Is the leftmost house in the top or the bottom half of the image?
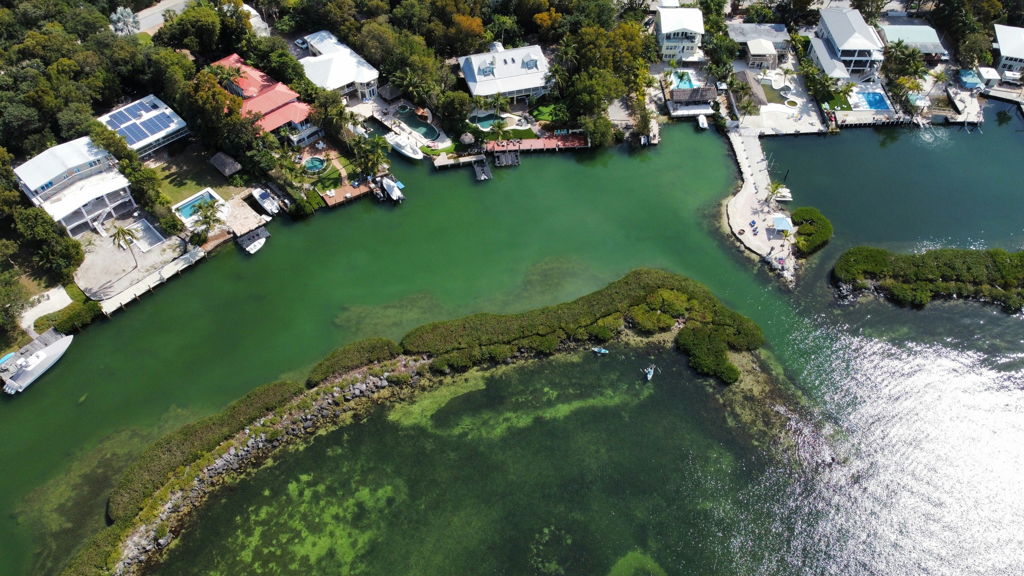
top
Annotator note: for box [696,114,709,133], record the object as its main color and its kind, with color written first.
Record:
white boat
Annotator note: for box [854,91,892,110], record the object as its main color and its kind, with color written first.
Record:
blue swimming pool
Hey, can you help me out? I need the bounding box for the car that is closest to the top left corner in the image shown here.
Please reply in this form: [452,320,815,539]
[291,38,309,51]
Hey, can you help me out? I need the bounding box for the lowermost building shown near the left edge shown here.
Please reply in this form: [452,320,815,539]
[14,136,137,238]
